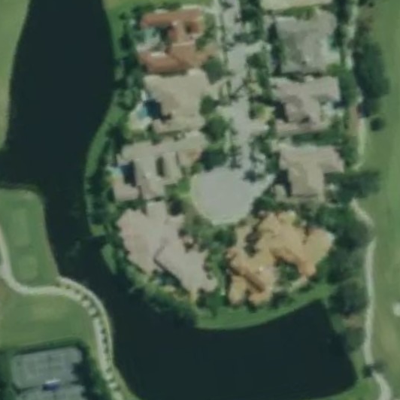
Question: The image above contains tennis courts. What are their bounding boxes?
[11,346,85,389]
[15,382,87,400]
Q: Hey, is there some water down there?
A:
Yes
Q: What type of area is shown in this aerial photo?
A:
residential area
